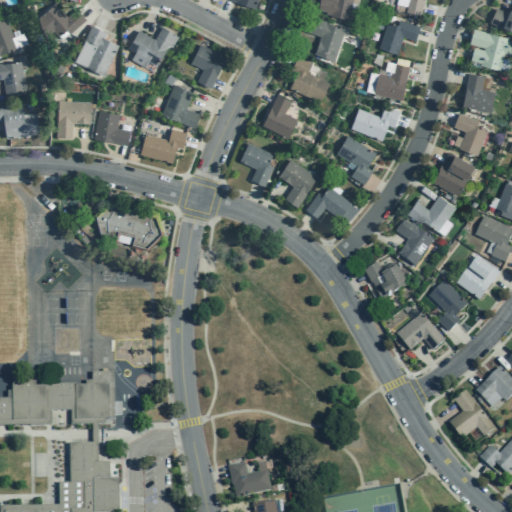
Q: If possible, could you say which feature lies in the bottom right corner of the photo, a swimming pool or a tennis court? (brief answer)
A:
tennis court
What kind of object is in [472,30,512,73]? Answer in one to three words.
house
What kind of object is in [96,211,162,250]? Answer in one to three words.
building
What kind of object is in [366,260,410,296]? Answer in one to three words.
house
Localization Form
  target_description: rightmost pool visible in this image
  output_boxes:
[120,60,154,84]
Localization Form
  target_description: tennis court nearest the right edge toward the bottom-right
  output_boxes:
[365,484,404,512]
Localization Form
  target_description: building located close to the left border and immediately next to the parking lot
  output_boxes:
[0,382,120,512]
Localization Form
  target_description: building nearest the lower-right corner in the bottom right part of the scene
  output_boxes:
[478,442,512,478]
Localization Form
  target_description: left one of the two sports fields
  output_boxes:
[0,182,28,364]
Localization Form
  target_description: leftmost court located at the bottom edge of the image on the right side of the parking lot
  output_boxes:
[325,490,368,512]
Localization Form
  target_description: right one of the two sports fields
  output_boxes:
[96,286,152,339]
